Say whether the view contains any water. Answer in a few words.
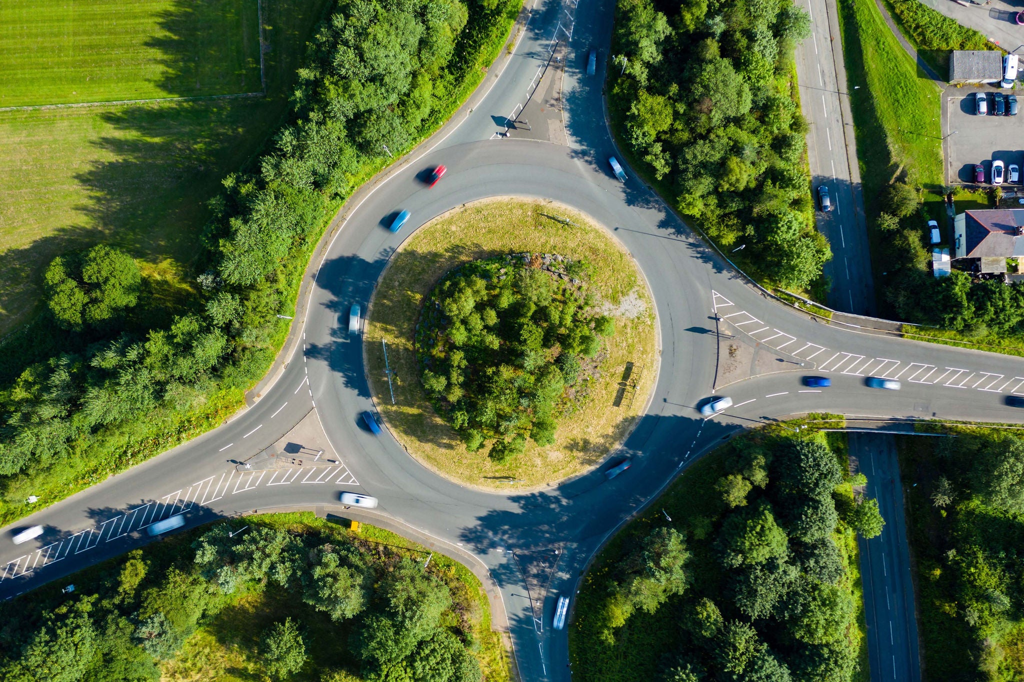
No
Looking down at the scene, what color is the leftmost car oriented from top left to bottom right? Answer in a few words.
blue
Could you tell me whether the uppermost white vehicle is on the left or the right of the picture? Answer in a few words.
right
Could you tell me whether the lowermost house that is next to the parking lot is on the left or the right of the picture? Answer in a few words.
right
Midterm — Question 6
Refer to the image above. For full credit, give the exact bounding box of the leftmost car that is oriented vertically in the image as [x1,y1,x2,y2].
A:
[348,306,360,332]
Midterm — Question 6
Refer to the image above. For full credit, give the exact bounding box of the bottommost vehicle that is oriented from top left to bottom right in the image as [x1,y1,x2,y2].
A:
[363,411,383,434]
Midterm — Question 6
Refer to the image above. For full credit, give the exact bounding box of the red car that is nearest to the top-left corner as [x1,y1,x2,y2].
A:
[428,166,447,189]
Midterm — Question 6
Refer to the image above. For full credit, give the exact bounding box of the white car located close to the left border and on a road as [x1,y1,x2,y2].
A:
[14,525,42,543]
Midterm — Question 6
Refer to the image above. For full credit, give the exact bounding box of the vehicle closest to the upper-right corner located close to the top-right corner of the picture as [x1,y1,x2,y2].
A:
[1000,51,1024,88]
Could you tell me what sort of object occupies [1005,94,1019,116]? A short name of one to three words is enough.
car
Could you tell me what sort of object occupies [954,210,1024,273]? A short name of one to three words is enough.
house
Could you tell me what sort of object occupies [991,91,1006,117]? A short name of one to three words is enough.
car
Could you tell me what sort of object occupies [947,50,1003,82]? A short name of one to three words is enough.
building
